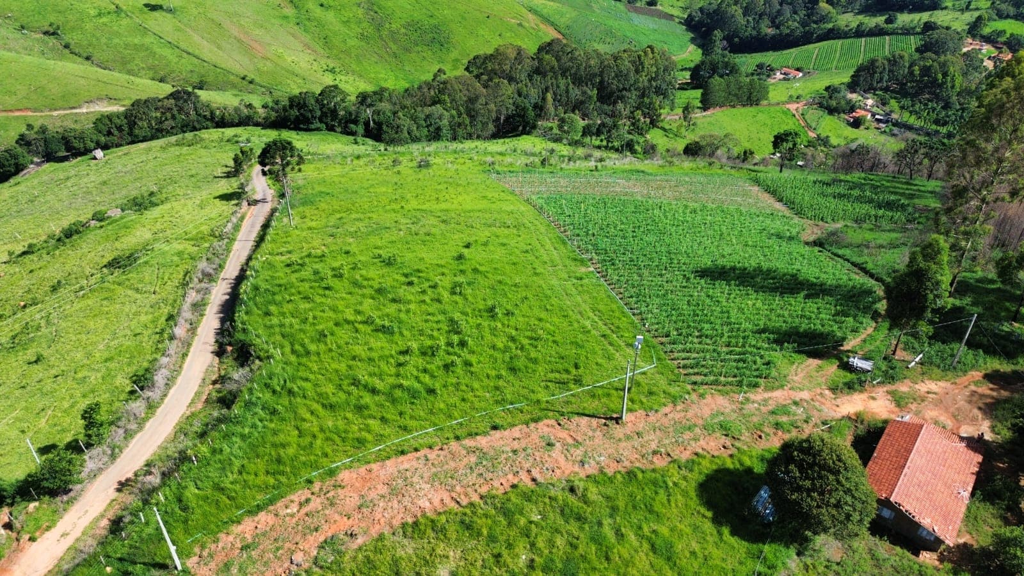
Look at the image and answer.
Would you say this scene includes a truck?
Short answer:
No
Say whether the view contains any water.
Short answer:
No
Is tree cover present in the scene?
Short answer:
Yes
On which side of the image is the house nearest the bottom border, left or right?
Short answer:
right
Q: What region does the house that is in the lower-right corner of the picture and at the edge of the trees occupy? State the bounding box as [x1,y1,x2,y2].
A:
[864,417,991,562]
